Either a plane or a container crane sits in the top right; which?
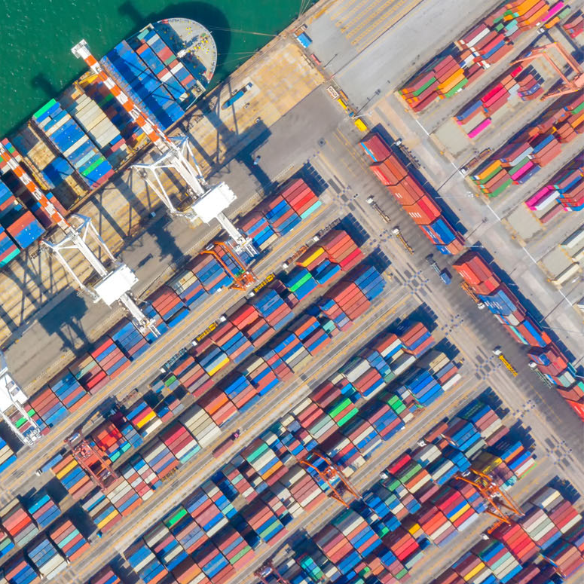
container crane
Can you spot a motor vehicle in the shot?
Yes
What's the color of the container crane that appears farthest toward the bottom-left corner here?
red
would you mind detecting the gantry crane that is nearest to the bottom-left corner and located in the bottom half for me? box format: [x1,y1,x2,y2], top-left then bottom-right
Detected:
[62,427,117,491]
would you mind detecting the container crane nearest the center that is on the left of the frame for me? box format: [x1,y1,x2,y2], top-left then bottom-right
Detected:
[199,240,259,292]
